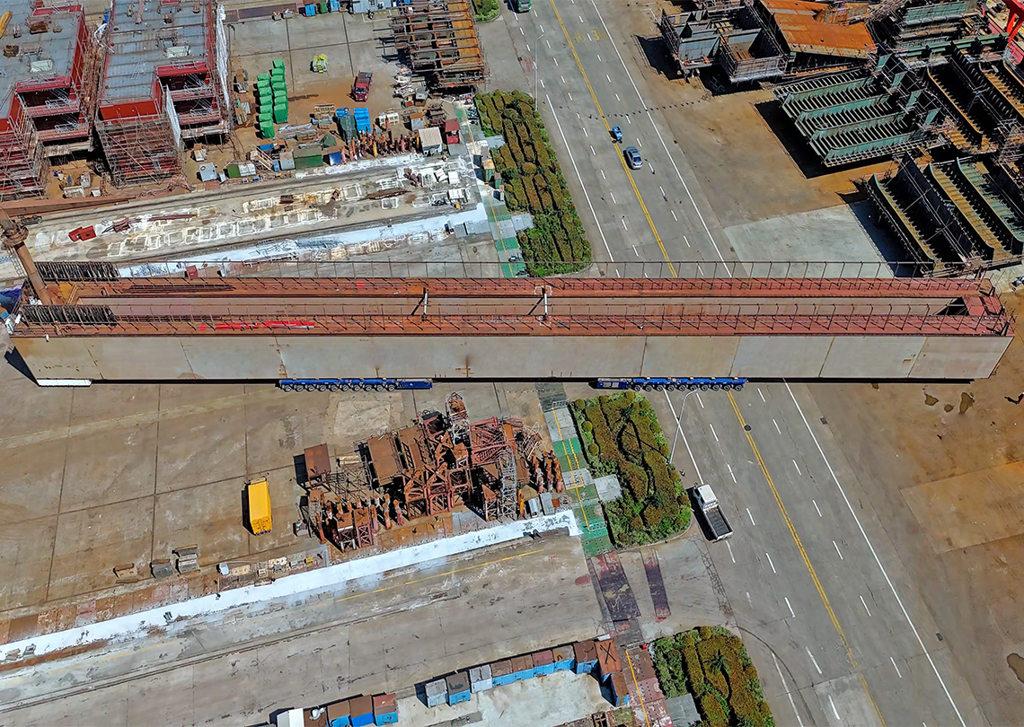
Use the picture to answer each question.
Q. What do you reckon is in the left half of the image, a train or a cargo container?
cargo container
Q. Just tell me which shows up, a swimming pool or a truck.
truck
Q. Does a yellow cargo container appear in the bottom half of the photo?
Yes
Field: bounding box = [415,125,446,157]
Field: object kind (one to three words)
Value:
shed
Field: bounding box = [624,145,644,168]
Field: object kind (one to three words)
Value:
car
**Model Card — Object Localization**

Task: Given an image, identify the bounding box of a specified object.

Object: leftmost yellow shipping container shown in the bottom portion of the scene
[246,477,278,542]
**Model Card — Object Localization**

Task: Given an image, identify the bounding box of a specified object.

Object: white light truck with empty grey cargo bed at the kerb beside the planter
[691,481,734,540]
